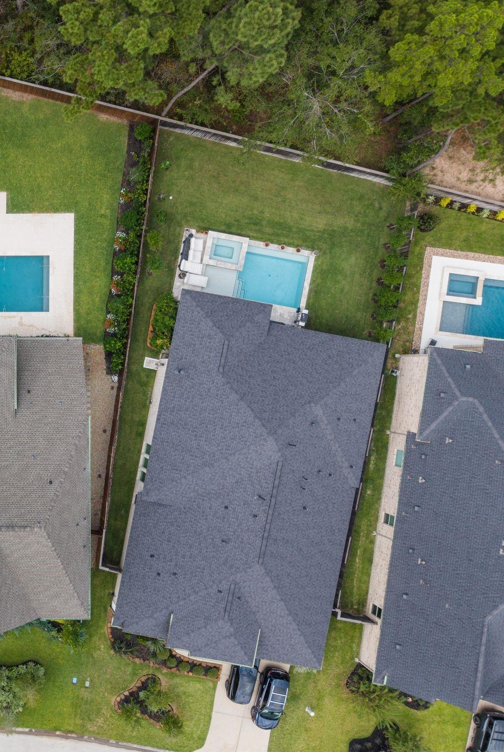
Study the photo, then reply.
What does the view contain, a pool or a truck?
pool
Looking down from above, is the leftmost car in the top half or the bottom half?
bottom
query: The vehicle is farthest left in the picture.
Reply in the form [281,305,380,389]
[221,660,261,712]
